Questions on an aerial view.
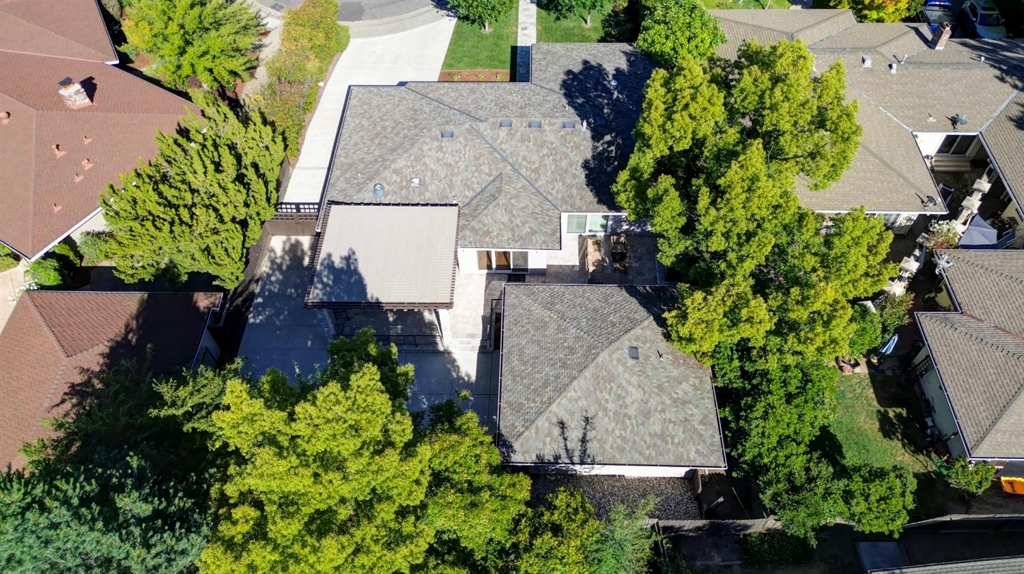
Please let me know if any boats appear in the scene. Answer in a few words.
No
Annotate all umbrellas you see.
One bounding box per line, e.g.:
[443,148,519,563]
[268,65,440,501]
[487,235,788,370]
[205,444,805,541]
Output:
[869,331,901,366]
[955,214,1004,248]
